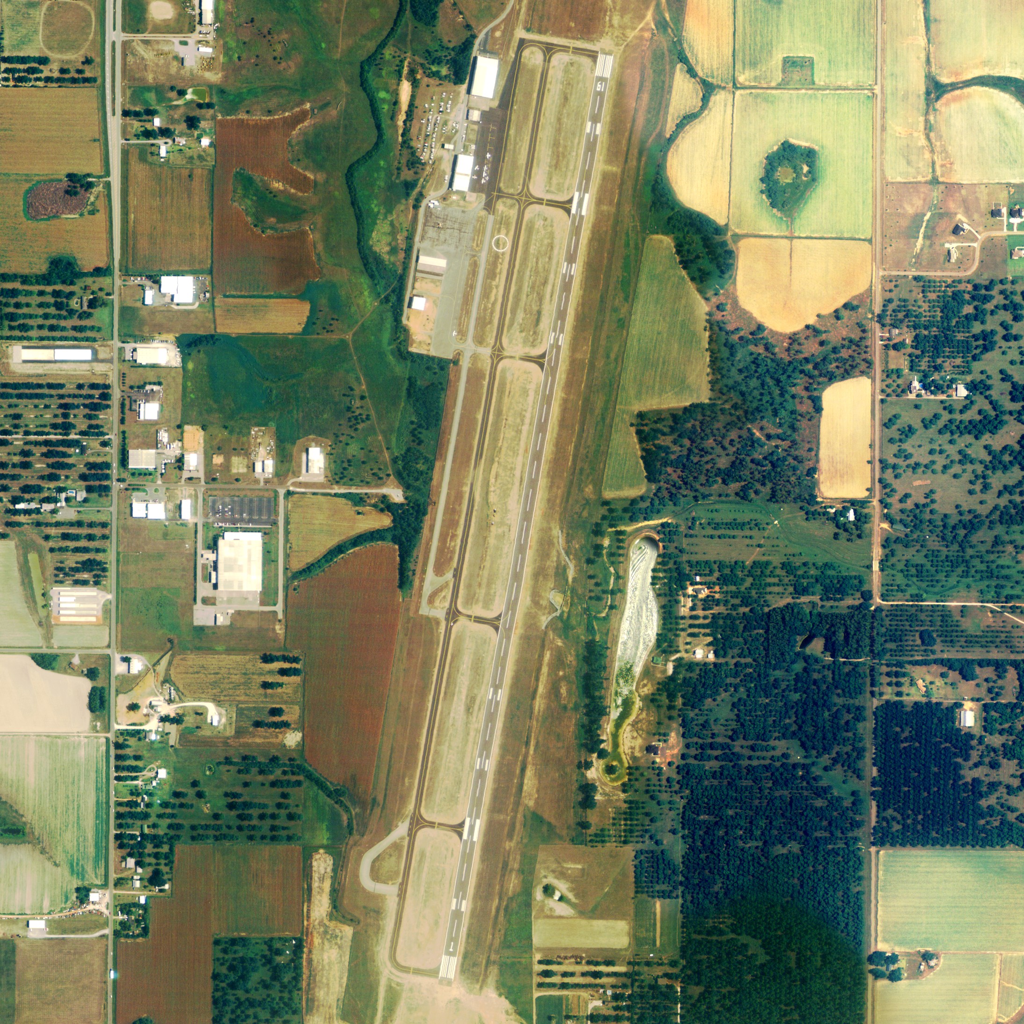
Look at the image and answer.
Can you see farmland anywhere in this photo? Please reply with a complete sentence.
Yes, the picture does contain farmland.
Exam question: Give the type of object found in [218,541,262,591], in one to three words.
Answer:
building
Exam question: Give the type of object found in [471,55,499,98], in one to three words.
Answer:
hangar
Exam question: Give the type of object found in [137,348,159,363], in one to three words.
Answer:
building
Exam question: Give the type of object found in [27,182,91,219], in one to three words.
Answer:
pond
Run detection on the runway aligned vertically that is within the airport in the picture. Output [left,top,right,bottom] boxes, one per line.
[439,51,613,983]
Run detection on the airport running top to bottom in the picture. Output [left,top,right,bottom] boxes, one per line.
[360,38,613,988]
